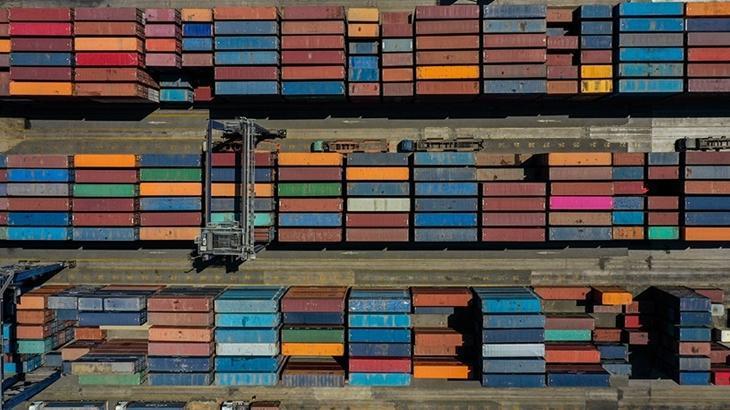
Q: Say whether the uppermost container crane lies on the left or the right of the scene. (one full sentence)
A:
The uppermost container crane is on the left side of the image.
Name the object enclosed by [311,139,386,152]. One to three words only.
vehicle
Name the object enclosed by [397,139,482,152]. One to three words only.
vehicle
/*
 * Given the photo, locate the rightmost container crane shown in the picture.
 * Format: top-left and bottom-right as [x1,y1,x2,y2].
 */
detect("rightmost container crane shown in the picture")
[193,116,292,265]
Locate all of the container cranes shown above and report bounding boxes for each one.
[0,258,76,410]
[193,116,292,265]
